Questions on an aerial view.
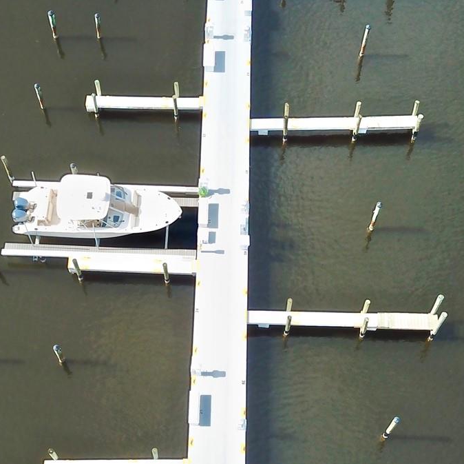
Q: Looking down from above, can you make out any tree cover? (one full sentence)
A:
No, no tree cover is visible.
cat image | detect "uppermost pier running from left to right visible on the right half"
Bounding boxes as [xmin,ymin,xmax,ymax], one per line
[250,116,417,137]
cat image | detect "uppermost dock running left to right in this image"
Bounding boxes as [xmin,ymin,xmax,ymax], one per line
[85,96,203,113]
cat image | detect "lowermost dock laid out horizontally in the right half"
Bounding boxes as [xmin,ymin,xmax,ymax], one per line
[248,310,435,334]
